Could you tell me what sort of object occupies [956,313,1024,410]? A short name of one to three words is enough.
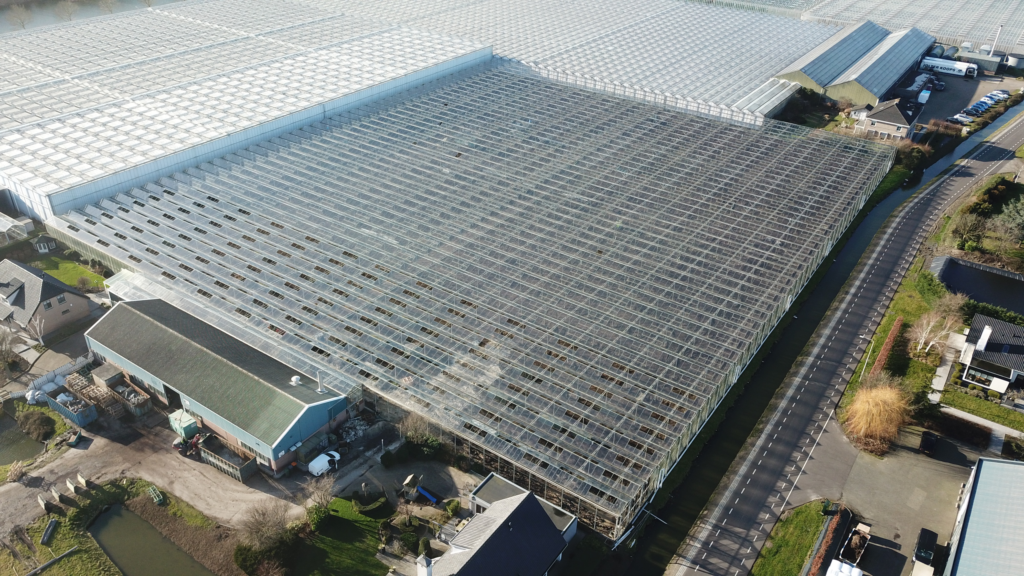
house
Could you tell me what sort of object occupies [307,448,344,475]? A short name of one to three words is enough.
vehicle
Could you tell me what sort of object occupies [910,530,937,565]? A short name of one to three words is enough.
vehicle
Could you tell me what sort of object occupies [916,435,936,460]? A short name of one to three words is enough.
car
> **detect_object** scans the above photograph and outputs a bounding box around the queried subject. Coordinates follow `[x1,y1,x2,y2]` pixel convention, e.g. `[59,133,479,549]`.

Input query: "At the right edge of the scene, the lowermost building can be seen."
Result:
[943,455,1024,576]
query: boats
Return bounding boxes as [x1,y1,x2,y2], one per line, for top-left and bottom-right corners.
[40,517,54,544]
